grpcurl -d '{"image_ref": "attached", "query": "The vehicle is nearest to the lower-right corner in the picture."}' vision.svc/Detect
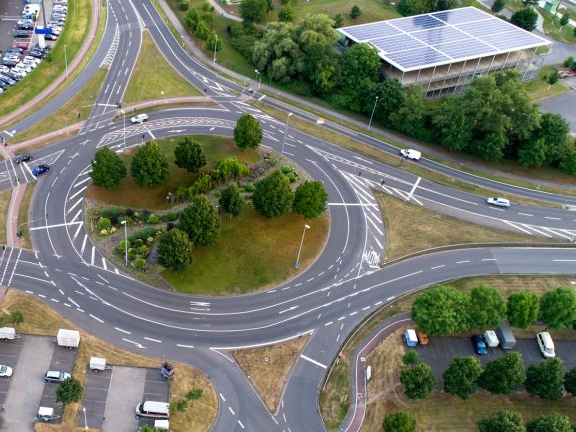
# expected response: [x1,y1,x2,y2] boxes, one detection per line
[537,329,555,356]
